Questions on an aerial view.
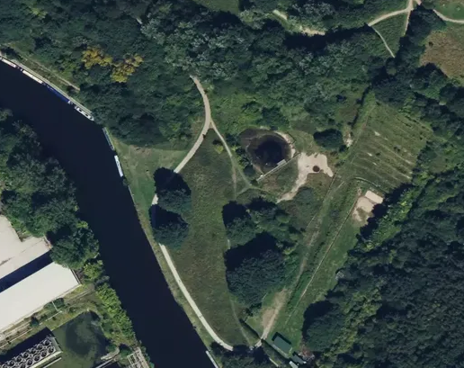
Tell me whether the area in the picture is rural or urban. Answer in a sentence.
The area is rural.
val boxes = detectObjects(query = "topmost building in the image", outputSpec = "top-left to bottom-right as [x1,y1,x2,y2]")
[0,265,81,331]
